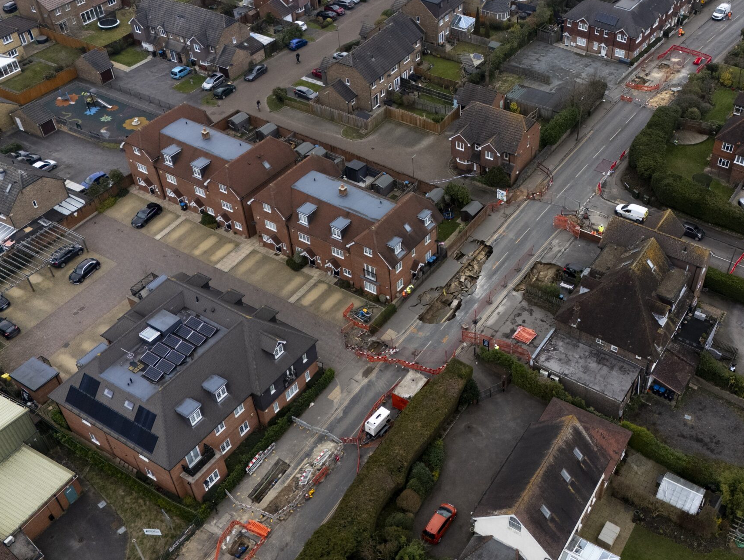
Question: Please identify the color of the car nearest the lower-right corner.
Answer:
red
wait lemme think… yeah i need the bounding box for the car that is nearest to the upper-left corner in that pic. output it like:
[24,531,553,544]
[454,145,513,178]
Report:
[0,1,18,15]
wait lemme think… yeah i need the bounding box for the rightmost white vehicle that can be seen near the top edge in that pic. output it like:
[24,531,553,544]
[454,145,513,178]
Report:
[710,1,733,21]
